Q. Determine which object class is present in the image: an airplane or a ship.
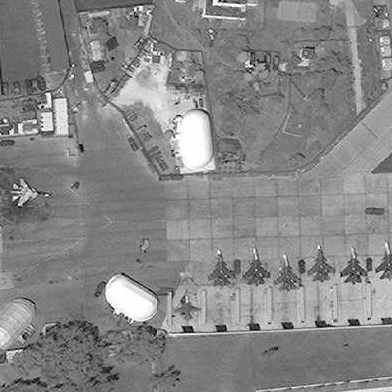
airplane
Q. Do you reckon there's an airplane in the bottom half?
Yes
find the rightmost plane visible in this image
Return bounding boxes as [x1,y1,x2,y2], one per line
[376,243,392,278]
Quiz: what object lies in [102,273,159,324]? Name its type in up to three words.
hangar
